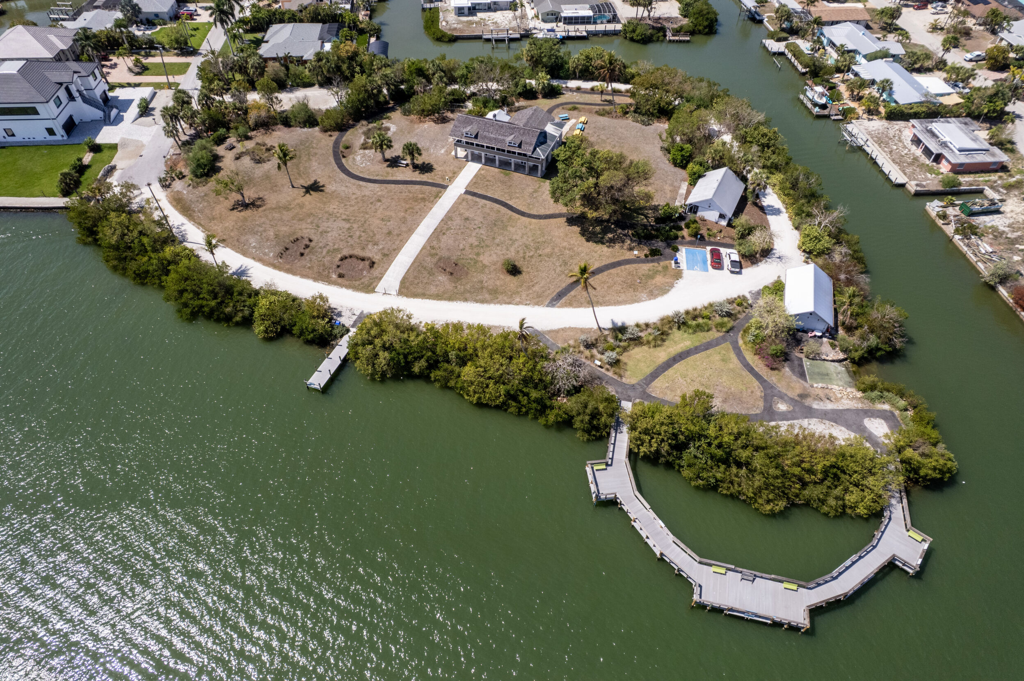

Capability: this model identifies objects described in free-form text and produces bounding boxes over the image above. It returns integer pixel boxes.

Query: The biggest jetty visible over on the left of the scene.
[303,328,356,399]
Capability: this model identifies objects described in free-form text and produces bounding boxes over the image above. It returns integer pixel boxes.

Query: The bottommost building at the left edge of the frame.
[0,54,116,141]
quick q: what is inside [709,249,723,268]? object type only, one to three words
car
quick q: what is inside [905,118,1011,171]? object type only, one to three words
house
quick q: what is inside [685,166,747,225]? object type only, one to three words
house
